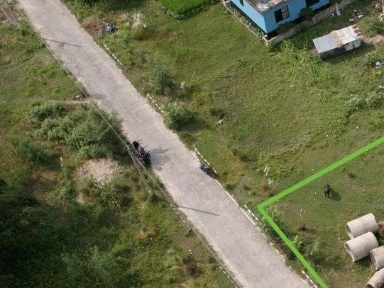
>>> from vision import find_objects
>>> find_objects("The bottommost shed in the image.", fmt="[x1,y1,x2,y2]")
[313,24,362,59]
